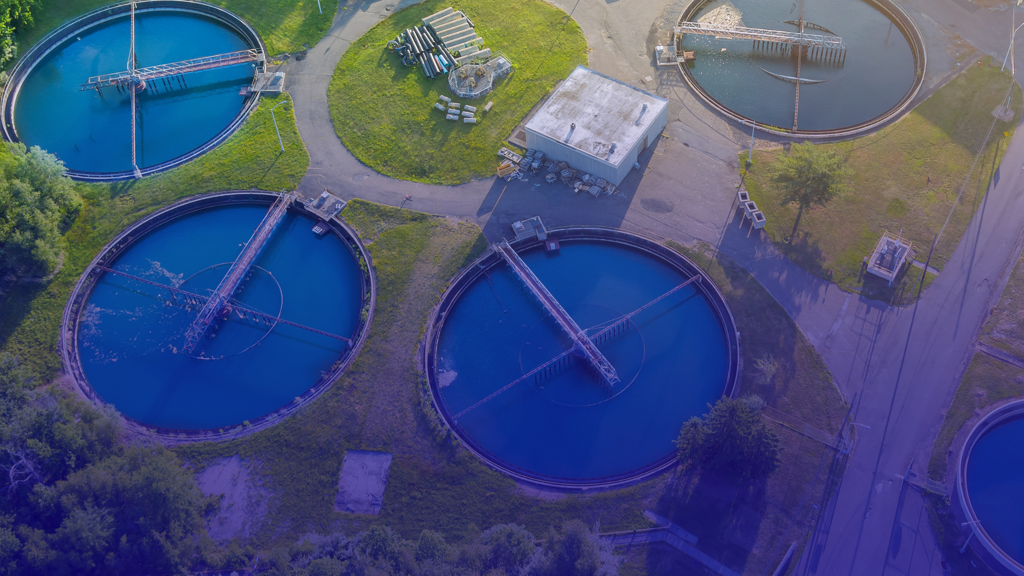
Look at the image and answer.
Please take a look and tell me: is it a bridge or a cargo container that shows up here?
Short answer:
bridge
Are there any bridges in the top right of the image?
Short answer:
Yes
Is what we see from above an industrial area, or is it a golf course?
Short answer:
industrial area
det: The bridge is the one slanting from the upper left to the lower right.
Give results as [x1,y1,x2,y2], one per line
[490,231,621,390]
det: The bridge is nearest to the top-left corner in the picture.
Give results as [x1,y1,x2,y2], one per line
[82,45,274,95]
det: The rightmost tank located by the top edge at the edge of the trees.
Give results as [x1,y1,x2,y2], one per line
[667,0,927,141]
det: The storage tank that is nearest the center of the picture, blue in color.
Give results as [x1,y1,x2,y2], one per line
[425,223,741,490]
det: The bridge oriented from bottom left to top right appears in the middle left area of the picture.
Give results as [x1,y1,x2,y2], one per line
[185,182,302,351]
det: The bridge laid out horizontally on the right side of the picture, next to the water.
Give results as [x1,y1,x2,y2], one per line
[667,18,852,56]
